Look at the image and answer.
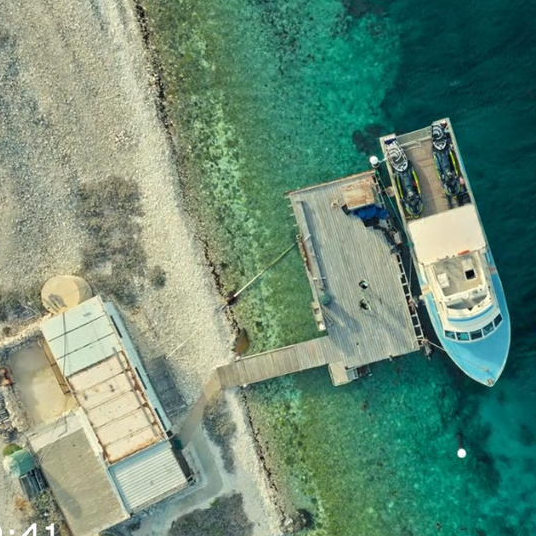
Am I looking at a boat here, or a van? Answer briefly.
boat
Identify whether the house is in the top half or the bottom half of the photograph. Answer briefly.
bottom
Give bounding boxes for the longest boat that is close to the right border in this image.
[379,117,512,389]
